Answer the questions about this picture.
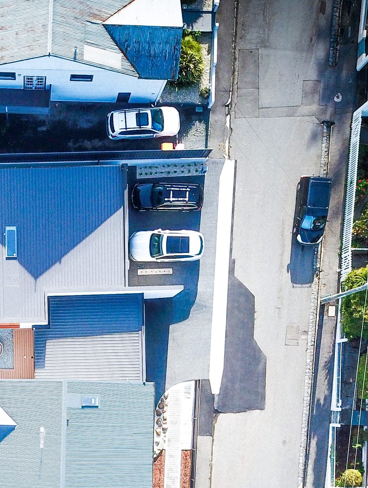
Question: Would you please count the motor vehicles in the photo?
4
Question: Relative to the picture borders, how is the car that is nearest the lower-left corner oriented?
from side to side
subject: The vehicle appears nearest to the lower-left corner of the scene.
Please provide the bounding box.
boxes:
[128,227,201,264]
